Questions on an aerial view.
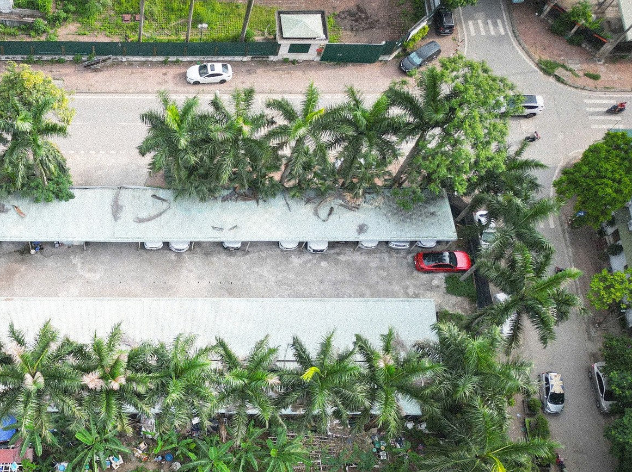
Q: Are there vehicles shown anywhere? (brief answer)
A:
Yes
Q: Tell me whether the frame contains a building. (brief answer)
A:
Yes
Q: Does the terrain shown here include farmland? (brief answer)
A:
No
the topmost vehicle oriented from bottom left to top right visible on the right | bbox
[399,34,444,74]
